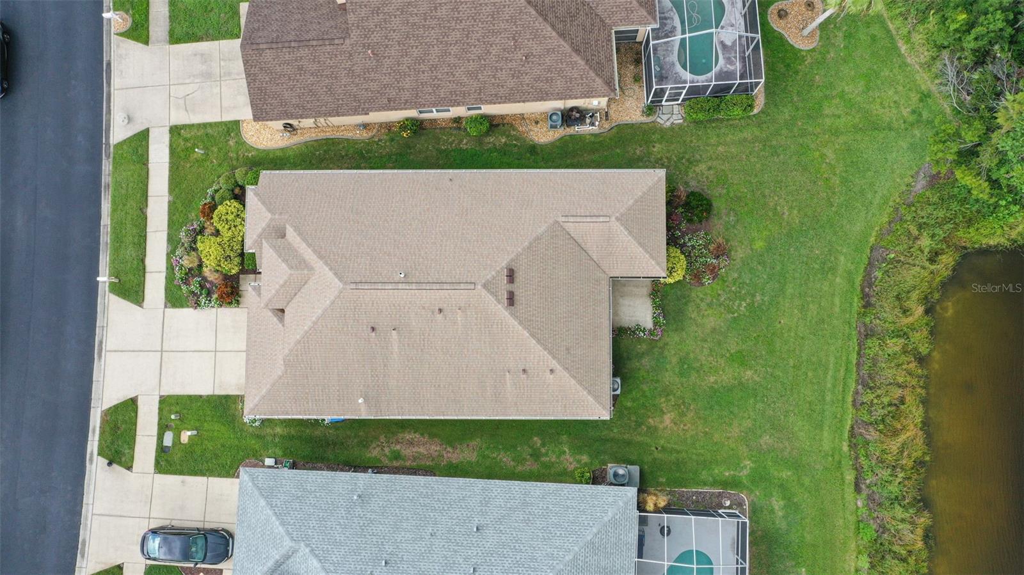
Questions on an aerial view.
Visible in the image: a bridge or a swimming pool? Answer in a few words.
swimming pool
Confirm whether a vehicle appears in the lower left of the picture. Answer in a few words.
Yes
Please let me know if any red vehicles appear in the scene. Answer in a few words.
No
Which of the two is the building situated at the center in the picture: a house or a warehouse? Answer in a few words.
house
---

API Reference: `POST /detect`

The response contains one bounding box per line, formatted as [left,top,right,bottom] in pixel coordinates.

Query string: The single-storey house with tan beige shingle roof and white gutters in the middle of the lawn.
[242,167,666,421]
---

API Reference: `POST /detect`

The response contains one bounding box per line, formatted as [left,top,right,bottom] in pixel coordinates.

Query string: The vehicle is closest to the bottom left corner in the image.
[139,523,235,569]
